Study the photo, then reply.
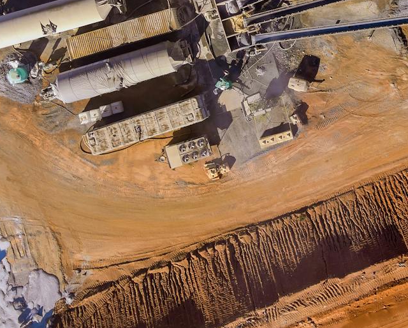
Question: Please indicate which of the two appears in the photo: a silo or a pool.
silo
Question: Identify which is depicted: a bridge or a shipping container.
shipping container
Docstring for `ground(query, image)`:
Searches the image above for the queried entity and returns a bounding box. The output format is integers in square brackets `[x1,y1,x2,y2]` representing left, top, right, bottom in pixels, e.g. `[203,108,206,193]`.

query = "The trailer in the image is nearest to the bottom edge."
[85,94,215,156]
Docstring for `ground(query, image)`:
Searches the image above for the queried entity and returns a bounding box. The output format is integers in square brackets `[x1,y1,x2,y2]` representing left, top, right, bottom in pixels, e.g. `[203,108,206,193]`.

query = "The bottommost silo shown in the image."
[40,37,197,100]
